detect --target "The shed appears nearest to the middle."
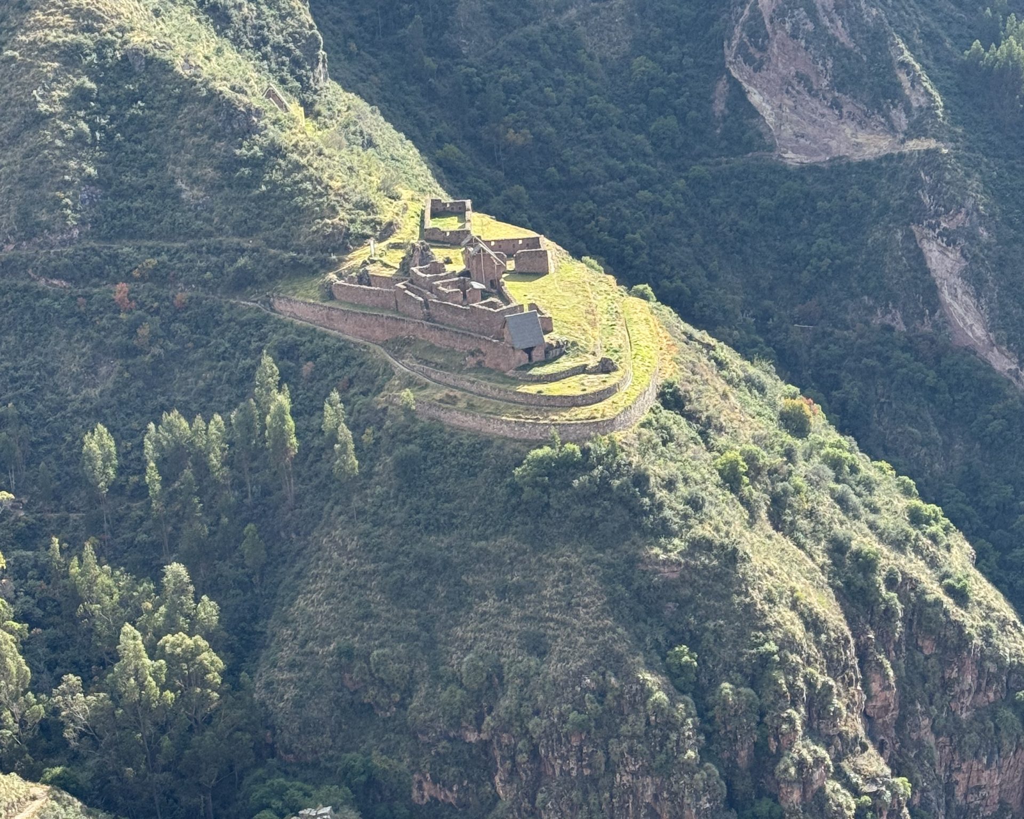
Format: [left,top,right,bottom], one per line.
[505,309,549,373]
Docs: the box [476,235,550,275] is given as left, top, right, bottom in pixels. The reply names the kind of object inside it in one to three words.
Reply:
building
